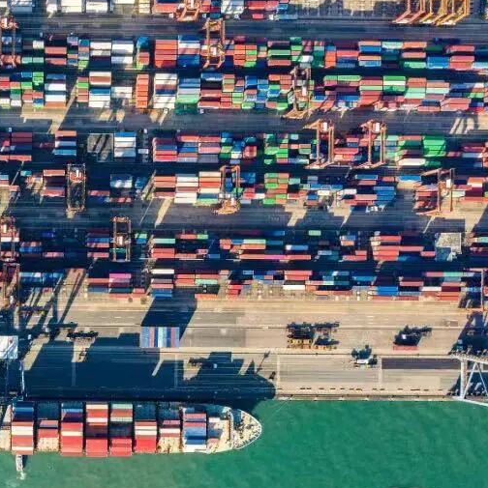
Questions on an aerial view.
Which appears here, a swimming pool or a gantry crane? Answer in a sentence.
There is a gantry crane in the scene.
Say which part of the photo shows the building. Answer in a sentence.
The building is in the right part of the image.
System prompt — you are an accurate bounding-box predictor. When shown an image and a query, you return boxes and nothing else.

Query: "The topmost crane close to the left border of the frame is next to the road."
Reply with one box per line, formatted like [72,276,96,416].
[0,14,20,77]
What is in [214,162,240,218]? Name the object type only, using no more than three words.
container crane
